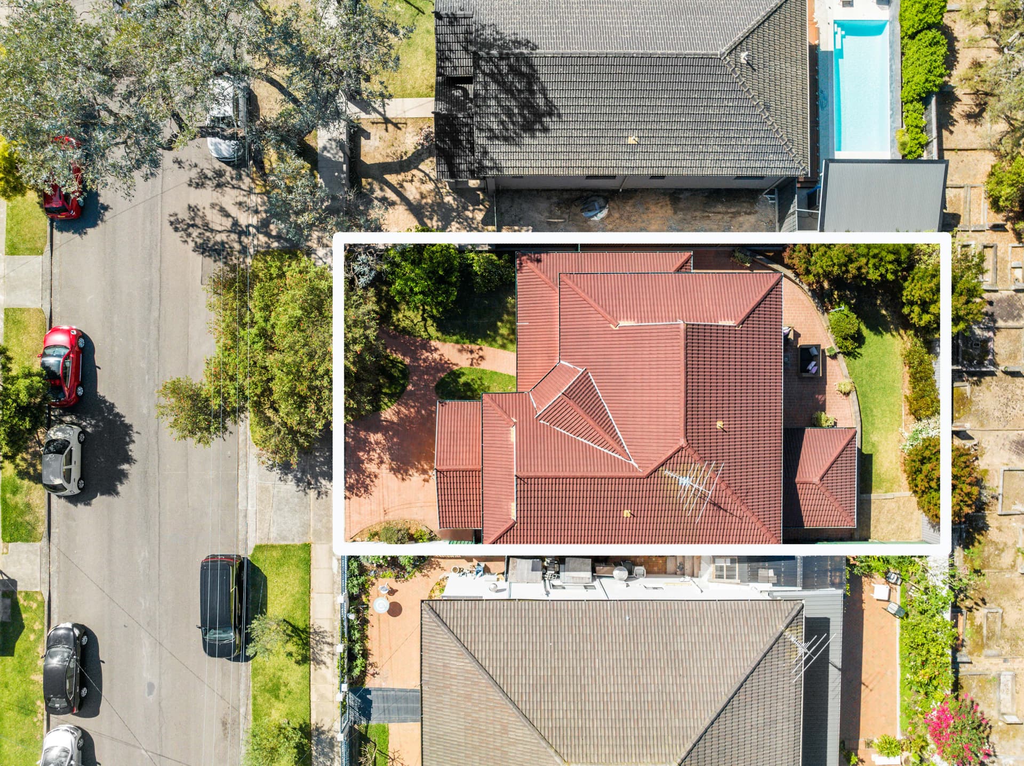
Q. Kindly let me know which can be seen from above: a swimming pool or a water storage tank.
swimming pool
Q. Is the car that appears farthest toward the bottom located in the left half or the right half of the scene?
left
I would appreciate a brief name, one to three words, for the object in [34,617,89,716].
car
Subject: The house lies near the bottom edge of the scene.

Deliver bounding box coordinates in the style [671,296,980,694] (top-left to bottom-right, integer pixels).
[417,564,807,766]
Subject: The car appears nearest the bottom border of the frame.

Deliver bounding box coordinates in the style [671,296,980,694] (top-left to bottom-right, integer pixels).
[30,718,84,766]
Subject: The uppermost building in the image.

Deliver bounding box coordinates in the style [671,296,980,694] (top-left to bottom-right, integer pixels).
[430,0,812,190]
